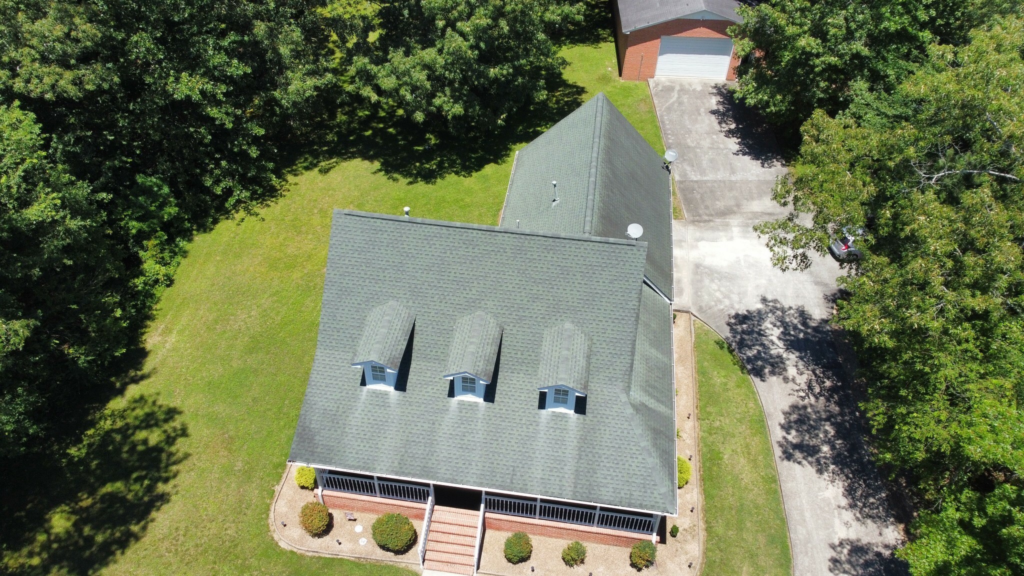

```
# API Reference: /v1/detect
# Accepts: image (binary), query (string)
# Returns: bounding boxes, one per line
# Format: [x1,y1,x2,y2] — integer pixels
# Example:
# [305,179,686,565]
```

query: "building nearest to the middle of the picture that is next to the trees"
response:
[288,91,676,576]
